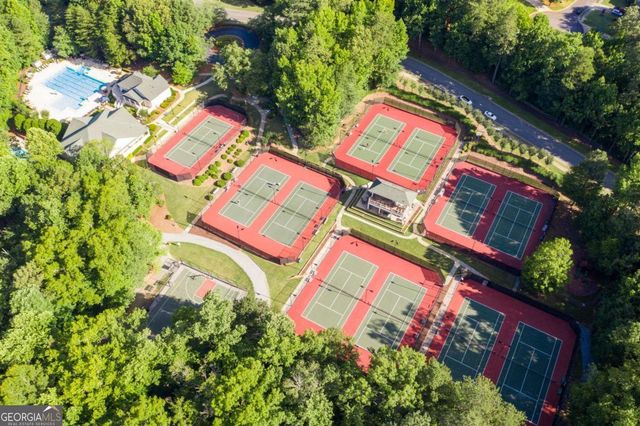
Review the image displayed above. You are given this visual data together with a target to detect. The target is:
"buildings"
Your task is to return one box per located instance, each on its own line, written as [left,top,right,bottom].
[46,103,152,158]
[115,74,172,114]
[364,172,424,225]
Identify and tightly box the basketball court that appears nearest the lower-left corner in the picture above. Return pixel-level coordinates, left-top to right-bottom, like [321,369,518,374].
[136,265,242,359]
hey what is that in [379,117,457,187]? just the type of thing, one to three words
tennis court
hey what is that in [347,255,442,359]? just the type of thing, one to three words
tennis court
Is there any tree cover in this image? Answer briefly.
Yes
